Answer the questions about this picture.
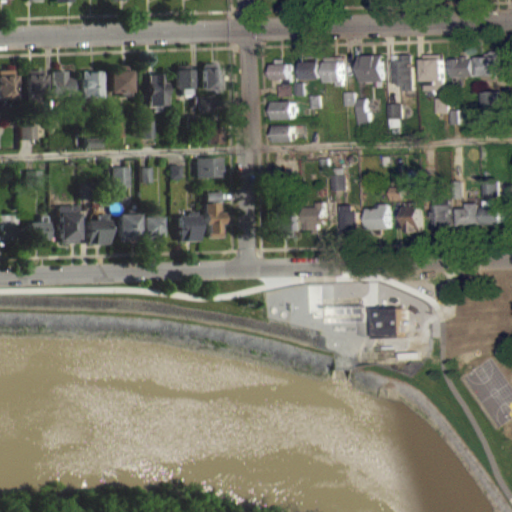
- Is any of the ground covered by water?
Yes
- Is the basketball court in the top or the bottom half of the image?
bottom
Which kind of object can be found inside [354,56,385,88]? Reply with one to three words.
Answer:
house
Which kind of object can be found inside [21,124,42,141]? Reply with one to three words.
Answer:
building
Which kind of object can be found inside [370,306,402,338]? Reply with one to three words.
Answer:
building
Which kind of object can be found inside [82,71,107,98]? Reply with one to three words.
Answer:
house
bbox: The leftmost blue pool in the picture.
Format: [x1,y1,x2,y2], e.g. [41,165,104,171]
[110,202,126,216]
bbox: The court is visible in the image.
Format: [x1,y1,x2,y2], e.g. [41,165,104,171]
[458,356,512,432]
